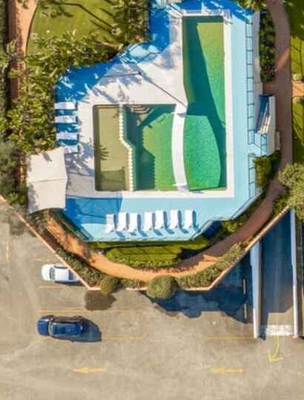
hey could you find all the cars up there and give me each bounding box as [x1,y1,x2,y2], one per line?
[41,312,89,338]
[41,263,79,284]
